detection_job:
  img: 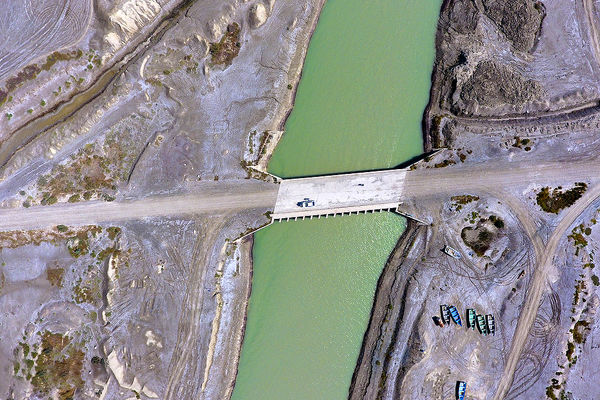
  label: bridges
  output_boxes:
[233,149,448,244]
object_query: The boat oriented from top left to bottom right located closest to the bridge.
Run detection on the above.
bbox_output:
[444,246,462,258]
